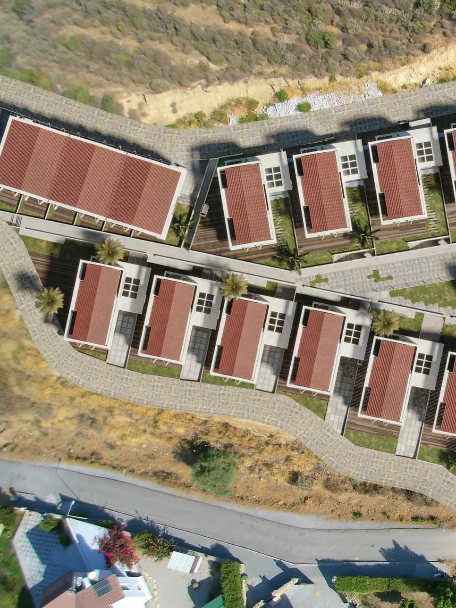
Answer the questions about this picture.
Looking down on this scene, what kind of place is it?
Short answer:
residential area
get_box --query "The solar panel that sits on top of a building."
[91,580,112,598]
